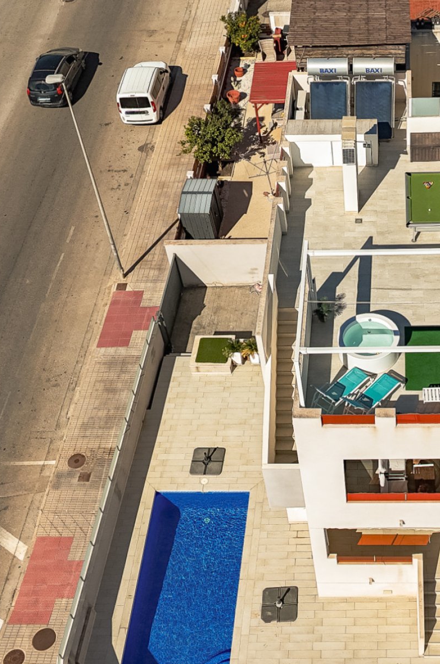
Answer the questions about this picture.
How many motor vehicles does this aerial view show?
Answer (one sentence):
I count 2 motor vehicles.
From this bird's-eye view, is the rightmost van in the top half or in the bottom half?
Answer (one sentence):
The rightmost van sits in the top half of the picture.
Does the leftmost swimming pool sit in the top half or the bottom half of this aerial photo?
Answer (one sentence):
It is in the bottom half that the leftmost swimming pool appears.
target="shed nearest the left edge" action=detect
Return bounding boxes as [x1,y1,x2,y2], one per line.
[179,180,223,240]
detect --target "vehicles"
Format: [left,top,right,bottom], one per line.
[118,57,179,124]
[25,46,90,106]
